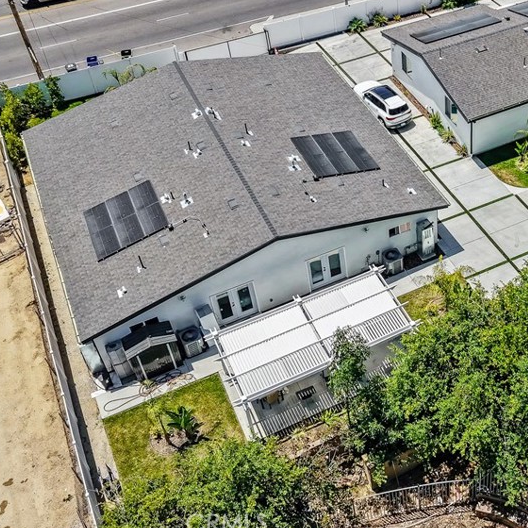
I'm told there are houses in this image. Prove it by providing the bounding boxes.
[379,2,528,155]
[19,53,452,371]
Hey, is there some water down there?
No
